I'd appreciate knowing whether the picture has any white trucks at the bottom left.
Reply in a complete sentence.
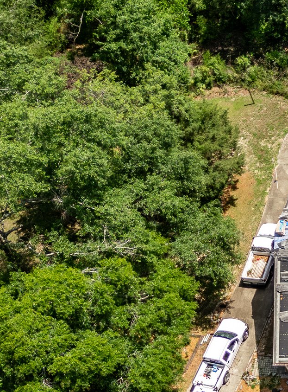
No, at the bottom left there is no white truck.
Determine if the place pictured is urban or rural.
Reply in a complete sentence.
It looks rural.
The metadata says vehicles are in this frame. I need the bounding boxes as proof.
[191,316,244,392]
[242,225,277,290]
